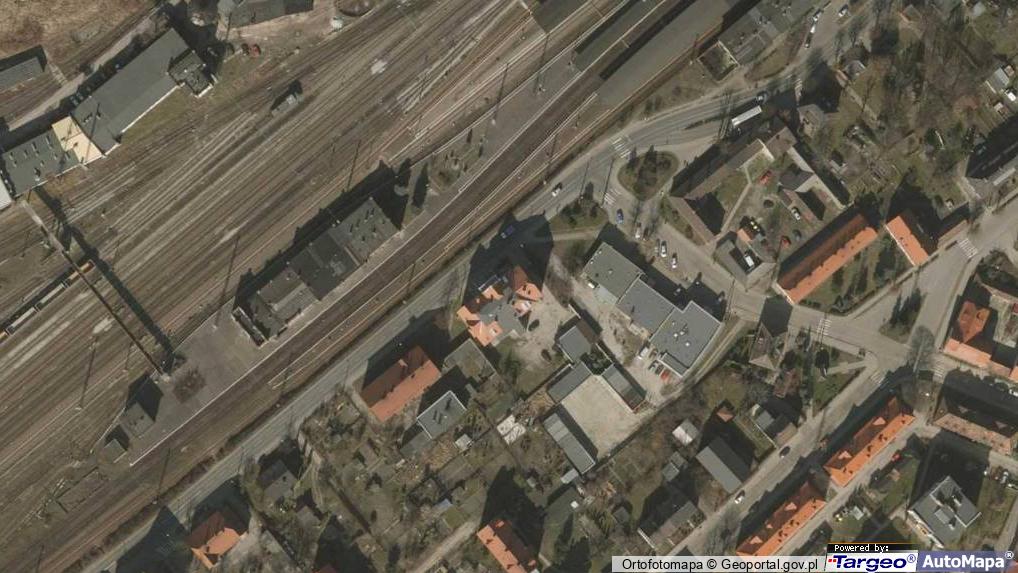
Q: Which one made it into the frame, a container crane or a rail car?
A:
rail car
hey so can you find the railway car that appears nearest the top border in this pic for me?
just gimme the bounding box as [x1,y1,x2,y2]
[65,258,94,286]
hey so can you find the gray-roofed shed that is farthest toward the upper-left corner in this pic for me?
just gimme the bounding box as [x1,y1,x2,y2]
[0,57,45,96]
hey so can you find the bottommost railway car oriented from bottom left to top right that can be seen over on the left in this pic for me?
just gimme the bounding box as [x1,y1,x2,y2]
[6,305,39,334]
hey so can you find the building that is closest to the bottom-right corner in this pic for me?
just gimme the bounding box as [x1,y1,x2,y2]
[903,476,981,548]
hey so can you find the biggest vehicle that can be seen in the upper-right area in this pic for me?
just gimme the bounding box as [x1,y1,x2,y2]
[730,104,764,125]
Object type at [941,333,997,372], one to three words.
building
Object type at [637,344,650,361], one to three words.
vehicle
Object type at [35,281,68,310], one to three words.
rail car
